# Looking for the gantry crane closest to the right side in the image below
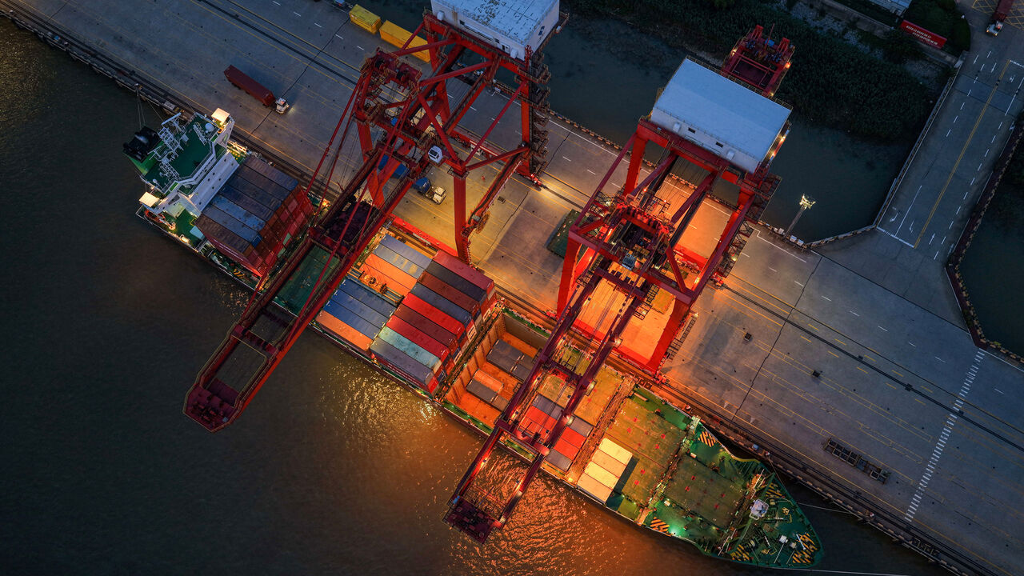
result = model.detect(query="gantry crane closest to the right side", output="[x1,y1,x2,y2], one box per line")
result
[432,15,797,547]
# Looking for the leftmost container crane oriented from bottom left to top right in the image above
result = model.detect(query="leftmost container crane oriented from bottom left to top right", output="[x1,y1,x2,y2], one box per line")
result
[172,0,581,424]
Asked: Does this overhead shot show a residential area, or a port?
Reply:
port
